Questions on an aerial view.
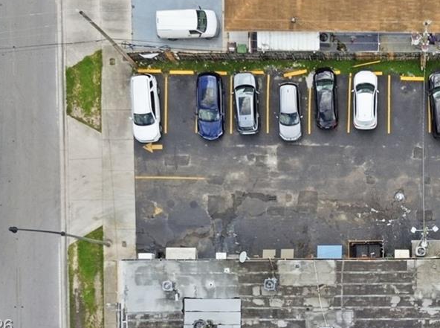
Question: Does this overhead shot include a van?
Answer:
Yes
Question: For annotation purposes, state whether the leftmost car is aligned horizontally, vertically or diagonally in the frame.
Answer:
vertically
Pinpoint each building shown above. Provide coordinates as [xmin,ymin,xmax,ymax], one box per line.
[118,245,440,328]
[222,0,440,34]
